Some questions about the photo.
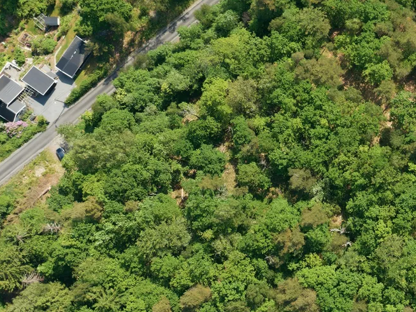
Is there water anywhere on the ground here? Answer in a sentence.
No, the picture contains no water.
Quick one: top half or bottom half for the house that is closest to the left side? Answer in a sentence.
You can find the house that is closest to the left side in the top half.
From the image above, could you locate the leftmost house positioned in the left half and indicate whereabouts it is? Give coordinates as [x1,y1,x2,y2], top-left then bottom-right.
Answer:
[0,74,31,122]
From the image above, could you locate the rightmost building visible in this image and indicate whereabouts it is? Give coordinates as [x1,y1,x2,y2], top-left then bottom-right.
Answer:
[55,35,94,78]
